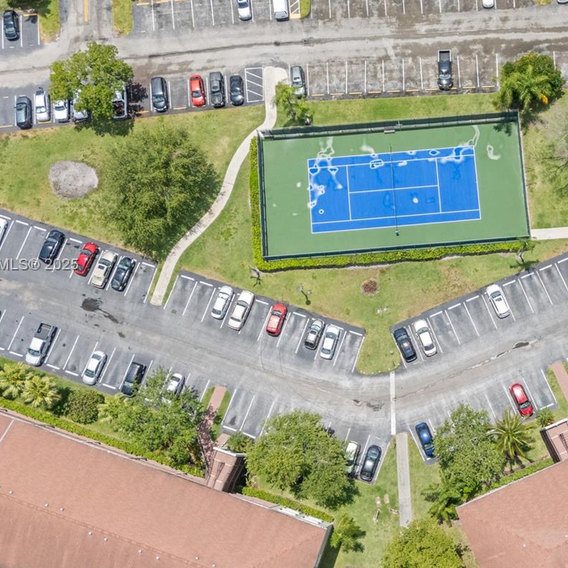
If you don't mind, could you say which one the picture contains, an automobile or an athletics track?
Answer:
automobile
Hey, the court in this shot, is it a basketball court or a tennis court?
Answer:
tennis court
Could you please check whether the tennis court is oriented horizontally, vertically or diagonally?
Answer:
horizontally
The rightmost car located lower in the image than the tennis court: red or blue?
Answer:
red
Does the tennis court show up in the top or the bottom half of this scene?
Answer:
top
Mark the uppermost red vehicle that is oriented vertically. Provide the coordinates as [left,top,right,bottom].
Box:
[190,76,206,108]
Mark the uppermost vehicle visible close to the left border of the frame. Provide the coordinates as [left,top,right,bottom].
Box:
[2,9,20,41]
